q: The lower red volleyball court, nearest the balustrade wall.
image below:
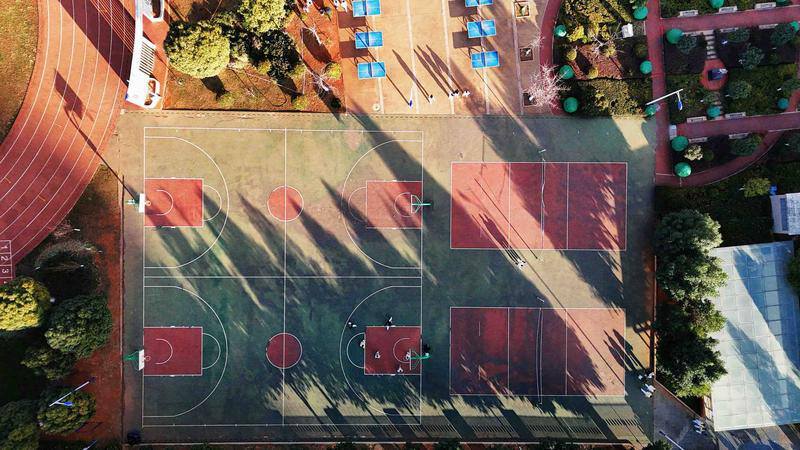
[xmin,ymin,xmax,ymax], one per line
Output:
[450,307,627,396]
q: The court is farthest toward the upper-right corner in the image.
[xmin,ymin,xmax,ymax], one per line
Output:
[450,162,627,250]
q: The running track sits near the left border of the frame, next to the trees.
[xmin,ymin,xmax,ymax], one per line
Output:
[0,0,143,285]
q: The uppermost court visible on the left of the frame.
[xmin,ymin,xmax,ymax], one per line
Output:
[143,127,422,277]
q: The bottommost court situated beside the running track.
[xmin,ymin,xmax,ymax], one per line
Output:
[141,277,421,426]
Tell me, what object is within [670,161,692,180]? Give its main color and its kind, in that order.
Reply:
green umbrella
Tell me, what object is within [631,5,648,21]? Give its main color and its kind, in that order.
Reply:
green umbrella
